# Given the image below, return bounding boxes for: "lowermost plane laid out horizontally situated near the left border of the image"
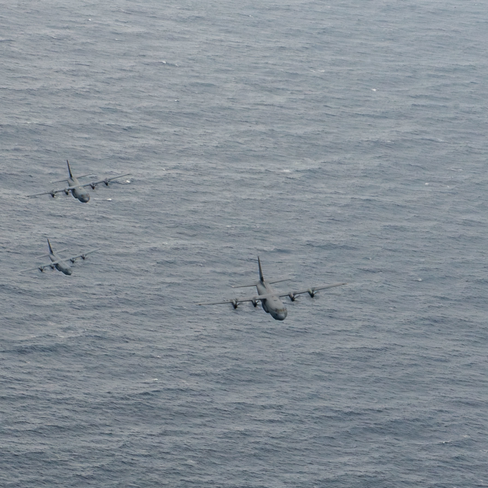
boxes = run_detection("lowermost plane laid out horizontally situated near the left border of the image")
[18,238,101,274]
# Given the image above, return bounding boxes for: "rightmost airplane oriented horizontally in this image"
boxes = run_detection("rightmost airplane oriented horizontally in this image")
[194,255,347,320]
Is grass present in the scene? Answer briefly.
No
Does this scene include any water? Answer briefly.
Yes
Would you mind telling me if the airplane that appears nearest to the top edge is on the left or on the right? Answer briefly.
left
